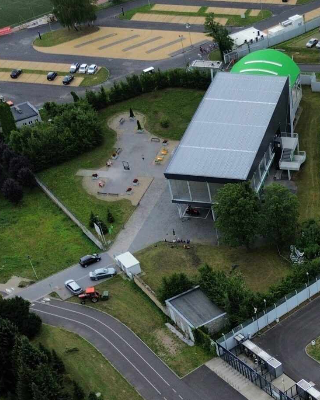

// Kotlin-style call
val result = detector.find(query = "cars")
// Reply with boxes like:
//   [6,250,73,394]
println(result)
[68,62,81,73]
[46,70,59,81]
[87,64,98,74]
[10,69,23,79]
[307,39,318,47]
[78,63,90,73]
[66,280,83,295]
[78,254,102,268]
[88,269,112,281]
[61,74,75,84]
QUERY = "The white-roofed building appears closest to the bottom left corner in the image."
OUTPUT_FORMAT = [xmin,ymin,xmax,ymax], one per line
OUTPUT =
[115,251,142,280]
